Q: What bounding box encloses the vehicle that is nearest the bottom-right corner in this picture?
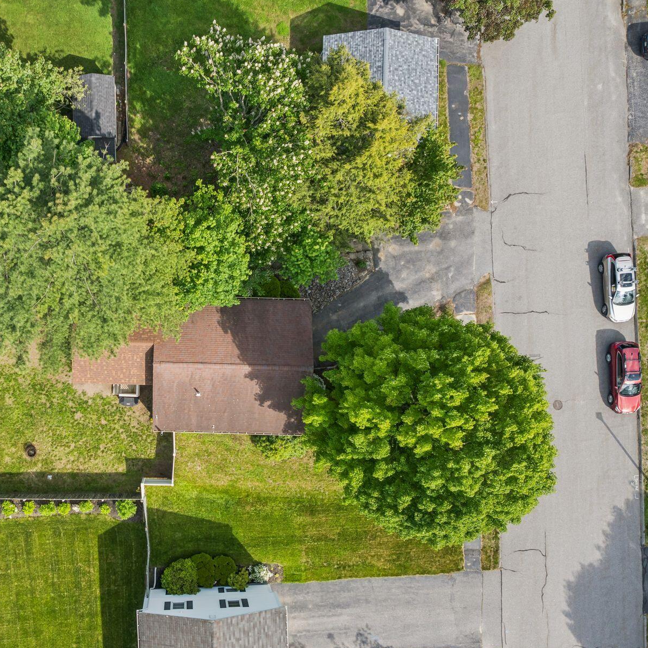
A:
[606,341,648,413]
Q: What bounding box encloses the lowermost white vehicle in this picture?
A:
[597,252,640,323]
